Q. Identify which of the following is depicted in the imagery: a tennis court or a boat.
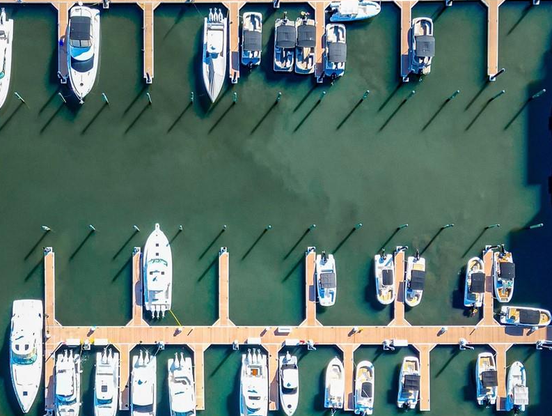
boat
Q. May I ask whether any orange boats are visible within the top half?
No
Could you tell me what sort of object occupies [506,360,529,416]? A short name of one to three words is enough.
boat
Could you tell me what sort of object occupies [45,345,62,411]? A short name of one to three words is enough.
pier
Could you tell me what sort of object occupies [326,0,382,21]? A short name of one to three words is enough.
boat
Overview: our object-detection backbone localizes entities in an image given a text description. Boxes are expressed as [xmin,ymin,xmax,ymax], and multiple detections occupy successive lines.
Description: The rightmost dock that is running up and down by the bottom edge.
[489,345,514,411]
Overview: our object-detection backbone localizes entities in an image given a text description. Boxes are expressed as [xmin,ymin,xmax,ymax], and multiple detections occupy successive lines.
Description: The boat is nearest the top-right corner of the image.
[409,17,436,82]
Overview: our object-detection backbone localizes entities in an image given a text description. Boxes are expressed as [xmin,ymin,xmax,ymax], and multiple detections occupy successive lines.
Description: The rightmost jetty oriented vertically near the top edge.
[480,2,505,77]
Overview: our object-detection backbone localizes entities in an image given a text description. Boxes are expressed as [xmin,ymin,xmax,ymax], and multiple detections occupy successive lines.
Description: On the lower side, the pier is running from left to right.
[45,327,552,345]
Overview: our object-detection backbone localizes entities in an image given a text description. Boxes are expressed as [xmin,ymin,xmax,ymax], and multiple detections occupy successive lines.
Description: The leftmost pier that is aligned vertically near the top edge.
[50,2,75,81]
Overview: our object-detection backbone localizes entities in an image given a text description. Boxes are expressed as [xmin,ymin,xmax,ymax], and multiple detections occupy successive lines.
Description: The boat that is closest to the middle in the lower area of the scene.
[314,248,336,307]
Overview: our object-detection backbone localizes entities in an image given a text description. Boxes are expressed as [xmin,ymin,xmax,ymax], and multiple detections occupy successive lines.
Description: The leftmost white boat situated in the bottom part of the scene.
[10,297,46,415]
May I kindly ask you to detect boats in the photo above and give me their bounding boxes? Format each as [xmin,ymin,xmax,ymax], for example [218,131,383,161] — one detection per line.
[494,306,552,328]
[323,24,347,87]
[93,341,120,416]
[273,16,296,74]
[130,344,157,416]
[200,5,226,103]
[352,360,375,416]
[66,4,101,106]
[491,245,516,303]
[10,297,46,415]
[397,356,421,413]
[402,250,427,307]
[464,257,486,314]
[240,12,261,73]
[278,346,299,416]
[54,343,82,416]
[373,248,396,305]
[0,8,17,110]
[143,223,173,320]
[294,15,316,76]
[167,347,197,416]
[326,0,382,21]
[475,353,499,411]
[238,345,269,416]
[409,17,436,82]
[314,248,336,307]
[323,357,344,416]
[506,360,529,416]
